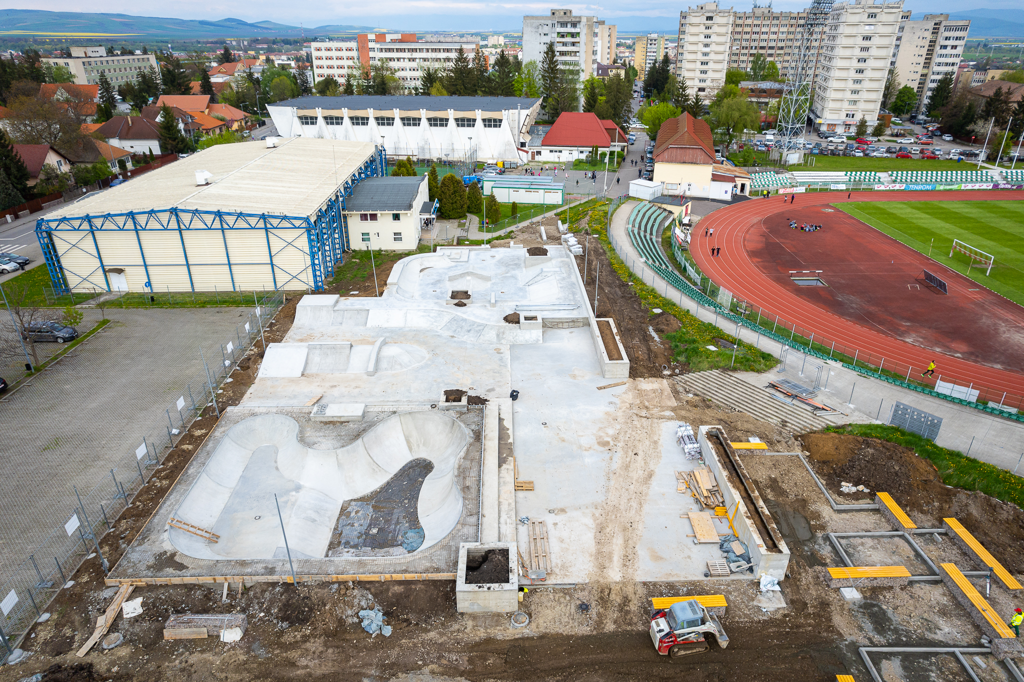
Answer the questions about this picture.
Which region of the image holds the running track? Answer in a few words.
right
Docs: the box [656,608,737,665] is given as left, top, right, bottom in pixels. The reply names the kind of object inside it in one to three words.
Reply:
work vehicle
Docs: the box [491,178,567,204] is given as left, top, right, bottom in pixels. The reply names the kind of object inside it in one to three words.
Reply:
building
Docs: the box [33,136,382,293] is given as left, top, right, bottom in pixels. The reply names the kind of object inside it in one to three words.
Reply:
building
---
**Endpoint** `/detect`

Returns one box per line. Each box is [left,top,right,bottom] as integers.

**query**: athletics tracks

[686,190,1024,416]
